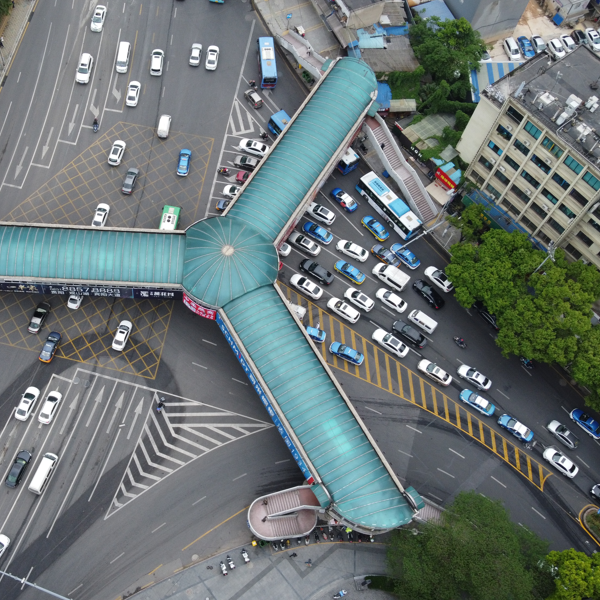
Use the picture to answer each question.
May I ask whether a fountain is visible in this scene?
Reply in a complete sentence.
No, the scene contains no fountain.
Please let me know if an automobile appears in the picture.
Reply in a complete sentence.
Yes, there is an automobile in the image.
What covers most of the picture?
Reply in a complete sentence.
The largest share of the image is taken up by paved ground.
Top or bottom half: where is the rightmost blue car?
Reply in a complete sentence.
It is in the bottom half that the rightmost blue car appears.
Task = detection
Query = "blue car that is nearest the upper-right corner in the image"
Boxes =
[518,36,536,58]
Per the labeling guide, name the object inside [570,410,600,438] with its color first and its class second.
blue car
